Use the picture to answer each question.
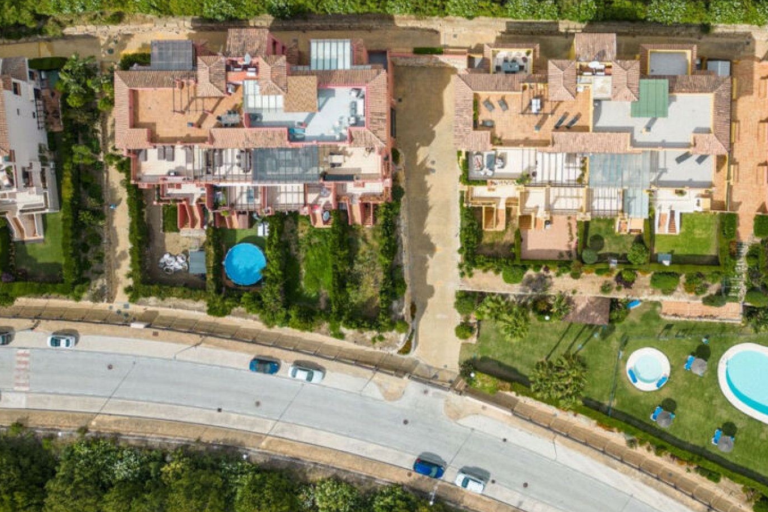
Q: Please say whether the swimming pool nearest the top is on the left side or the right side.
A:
left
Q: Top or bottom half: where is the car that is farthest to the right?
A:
bottom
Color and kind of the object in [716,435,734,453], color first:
gray umbrella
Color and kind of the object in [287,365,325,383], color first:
white car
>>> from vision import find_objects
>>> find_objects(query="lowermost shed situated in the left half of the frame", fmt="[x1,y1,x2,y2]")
[189,252,209,274]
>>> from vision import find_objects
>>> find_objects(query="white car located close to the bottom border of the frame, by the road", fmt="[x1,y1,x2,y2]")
[454,470,488,492]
